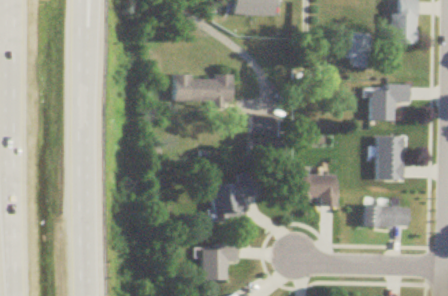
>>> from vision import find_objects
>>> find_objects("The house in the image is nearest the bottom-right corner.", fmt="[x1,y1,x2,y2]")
[363,206,412,230]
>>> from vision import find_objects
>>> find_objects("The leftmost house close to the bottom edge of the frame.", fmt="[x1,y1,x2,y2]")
[203,247,240,282]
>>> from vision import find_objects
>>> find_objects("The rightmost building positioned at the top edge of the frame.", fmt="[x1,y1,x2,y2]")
[390,0,421,45]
